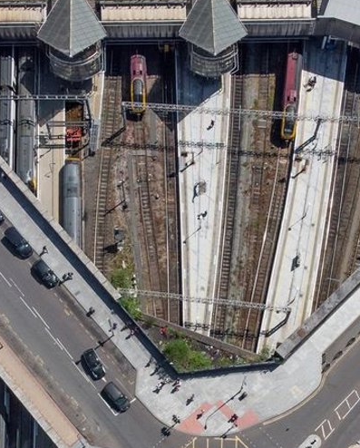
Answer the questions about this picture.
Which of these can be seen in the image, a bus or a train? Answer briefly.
train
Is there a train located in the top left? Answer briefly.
Yes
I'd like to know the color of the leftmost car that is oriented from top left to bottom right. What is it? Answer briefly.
black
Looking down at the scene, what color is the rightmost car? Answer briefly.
black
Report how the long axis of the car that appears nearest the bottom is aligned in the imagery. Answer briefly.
at an angle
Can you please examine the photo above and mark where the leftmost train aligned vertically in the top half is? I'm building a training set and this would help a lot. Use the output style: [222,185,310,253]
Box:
[0,40,17,172]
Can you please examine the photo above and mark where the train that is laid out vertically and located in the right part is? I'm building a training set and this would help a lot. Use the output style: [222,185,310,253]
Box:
[278,34,303,144]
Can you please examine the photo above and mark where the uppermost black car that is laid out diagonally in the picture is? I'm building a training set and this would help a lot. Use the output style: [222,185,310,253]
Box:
[3,227,32,257]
